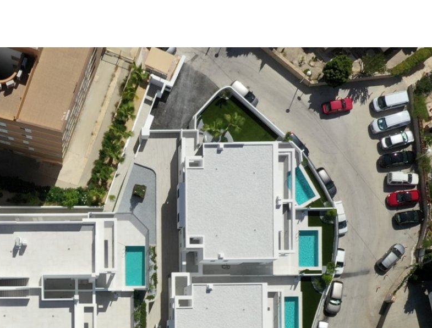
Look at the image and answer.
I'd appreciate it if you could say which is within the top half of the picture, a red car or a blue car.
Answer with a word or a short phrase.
red car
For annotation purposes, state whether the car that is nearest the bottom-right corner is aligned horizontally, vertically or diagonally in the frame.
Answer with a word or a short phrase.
diagonally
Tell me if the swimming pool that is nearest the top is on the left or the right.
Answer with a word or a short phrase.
right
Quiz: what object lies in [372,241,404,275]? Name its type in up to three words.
car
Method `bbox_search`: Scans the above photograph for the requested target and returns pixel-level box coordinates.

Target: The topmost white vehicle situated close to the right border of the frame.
[368,90,411,112]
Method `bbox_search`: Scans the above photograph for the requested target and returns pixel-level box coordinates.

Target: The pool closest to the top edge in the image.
[295,164,318,207]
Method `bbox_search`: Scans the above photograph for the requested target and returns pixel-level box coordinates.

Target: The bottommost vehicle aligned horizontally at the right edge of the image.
[390,210,424,226]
